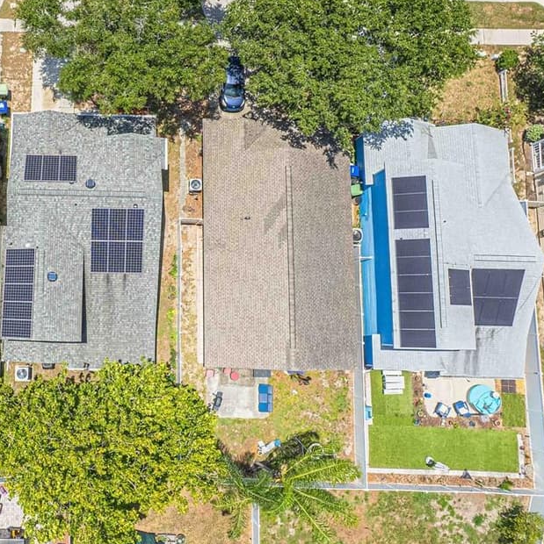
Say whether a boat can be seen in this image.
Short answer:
No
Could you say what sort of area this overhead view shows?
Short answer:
residential area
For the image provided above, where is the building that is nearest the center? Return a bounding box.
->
[200,117,362,370]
